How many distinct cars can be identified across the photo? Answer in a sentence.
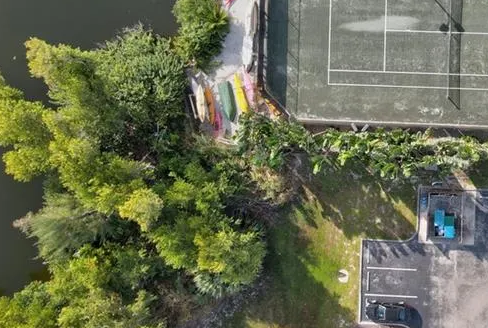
In total, there is 1 car in the scene.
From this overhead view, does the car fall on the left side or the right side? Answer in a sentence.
It is on the right.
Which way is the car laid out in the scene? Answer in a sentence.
From this overhead view, the car appears to run horizontally.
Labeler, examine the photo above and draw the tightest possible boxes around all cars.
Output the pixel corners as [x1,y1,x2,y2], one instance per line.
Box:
[365,300,414,324]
